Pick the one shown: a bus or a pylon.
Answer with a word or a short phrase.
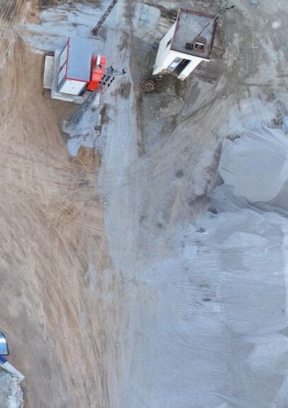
pylon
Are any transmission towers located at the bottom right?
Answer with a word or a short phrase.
No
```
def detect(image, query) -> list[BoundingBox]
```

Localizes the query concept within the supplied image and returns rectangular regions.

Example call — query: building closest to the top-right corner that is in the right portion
[152,7,217,83]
